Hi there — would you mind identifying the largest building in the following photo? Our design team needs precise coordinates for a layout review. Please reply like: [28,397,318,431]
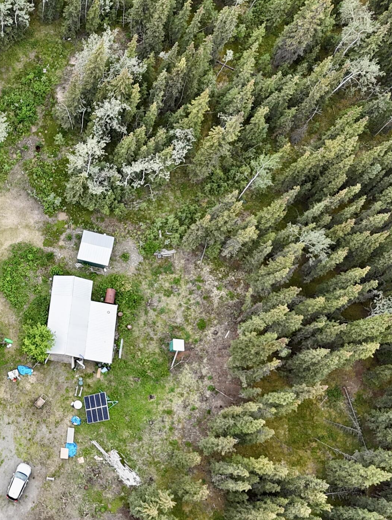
[43,276,117,370]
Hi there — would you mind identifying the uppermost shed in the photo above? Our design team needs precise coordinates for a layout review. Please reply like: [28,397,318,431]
[78,230,114,267]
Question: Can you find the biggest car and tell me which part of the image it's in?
bottom left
